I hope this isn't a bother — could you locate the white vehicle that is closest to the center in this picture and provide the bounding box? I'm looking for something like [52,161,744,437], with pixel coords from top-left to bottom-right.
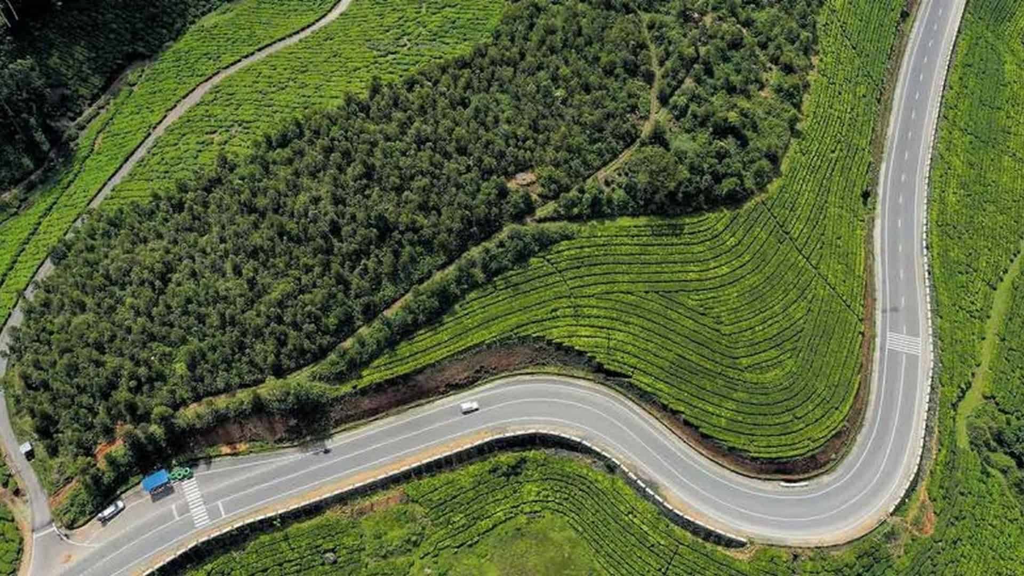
[461,403,480,416]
